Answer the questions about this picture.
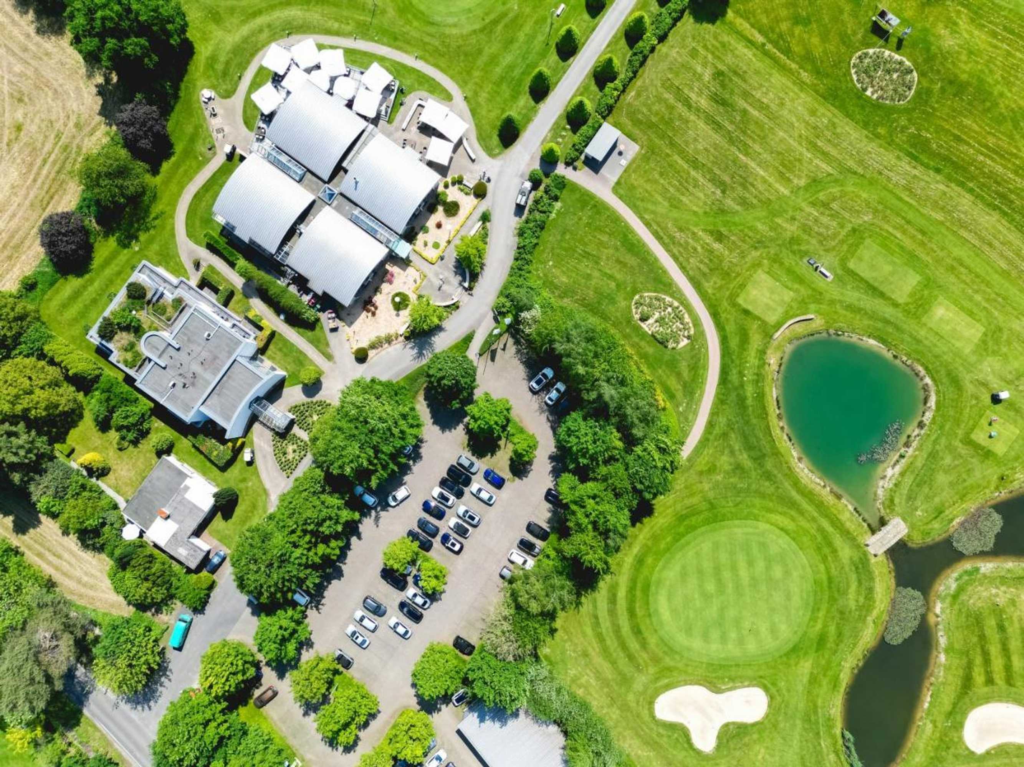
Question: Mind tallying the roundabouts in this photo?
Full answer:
Not a single roundabout can be seen.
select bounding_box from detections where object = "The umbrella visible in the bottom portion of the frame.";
[123,524,140,539]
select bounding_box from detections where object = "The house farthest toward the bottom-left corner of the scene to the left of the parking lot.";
[122,456,220,570]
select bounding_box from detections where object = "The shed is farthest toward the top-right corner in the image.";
[585,123,621,165]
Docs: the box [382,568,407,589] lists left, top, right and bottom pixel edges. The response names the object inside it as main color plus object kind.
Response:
black car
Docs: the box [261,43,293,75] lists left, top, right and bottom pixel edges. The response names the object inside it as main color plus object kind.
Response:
white umbrella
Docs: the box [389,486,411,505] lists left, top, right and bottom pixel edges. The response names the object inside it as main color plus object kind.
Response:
white car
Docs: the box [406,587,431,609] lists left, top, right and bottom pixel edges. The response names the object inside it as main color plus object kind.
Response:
white car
